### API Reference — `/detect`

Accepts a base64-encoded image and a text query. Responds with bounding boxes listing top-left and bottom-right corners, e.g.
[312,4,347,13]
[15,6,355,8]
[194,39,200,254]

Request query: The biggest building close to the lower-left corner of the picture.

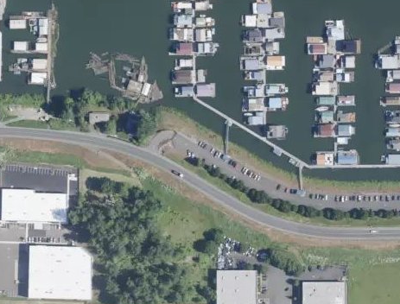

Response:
[27,246,91,300]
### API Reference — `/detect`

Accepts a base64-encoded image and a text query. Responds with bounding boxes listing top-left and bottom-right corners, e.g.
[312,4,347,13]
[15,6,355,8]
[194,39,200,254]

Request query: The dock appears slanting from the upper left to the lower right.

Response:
[193,95,309,167]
